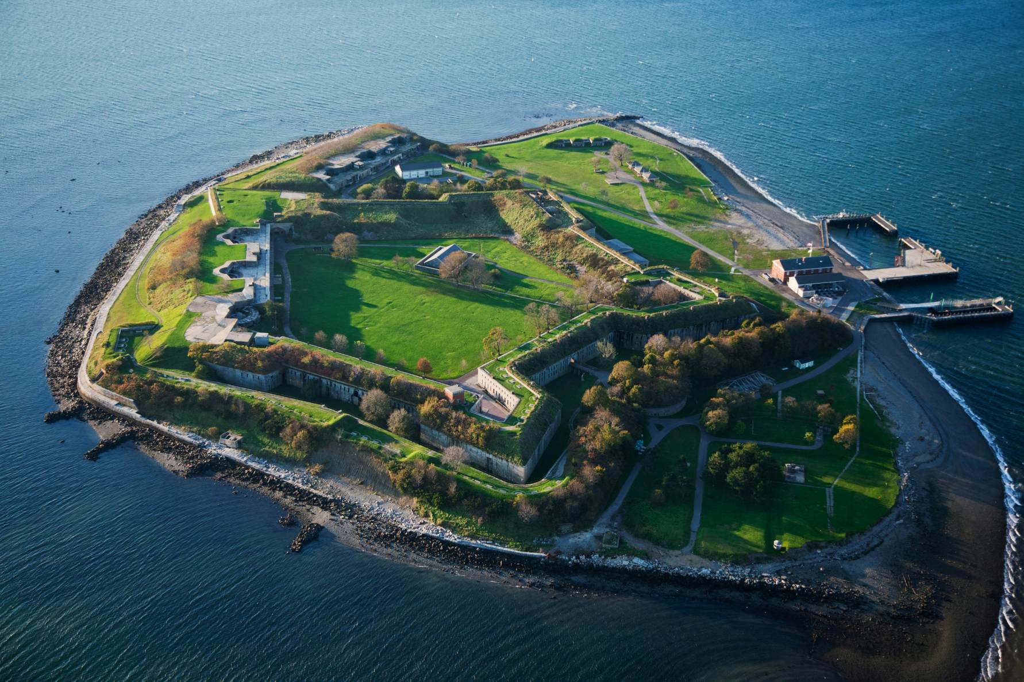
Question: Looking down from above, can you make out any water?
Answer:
Yes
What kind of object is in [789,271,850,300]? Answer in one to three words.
building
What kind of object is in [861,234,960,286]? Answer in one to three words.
pier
